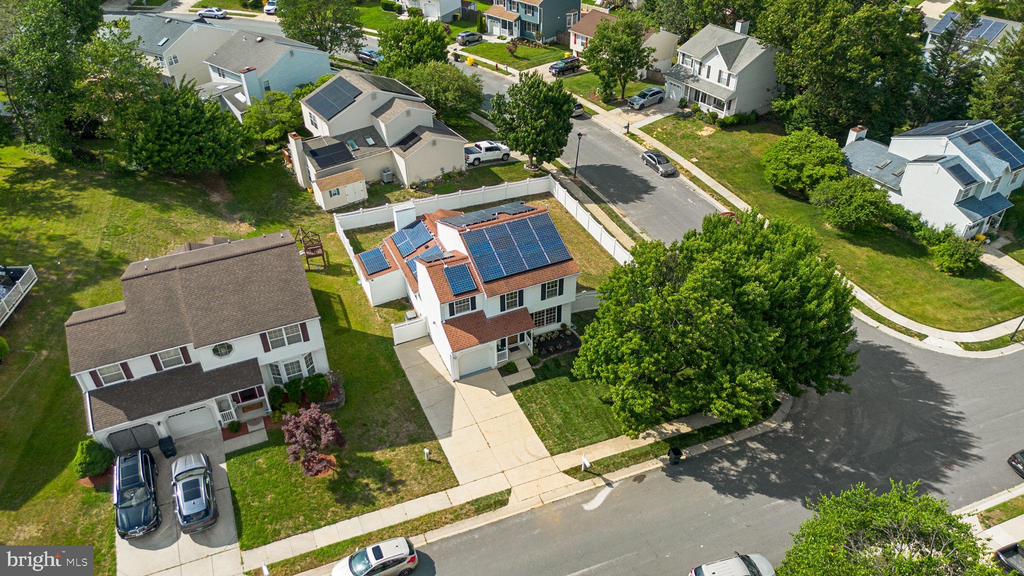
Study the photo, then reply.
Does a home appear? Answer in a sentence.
Yes, the frame does contain a home.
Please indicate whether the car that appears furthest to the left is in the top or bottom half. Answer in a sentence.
It is in the bottom half that the car that appears furthest to the left appears.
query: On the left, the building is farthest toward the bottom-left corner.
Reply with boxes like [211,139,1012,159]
[66,227,328,459]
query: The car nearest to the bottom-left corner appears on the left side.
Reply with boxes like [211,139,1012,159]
[111,453,160,538]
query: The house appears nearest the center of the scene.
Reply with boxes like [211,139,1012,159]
[353,202,582,382]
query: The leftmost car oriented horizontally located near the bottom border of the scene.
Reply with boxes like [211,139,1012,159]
[332,537,420,576]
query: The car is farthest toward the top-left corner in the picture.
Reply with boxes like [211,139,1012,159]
[196,8,229,20]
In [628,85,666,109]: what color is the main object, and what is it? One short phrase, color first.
gray car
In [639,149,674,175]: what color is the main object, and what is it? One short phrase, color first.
gray car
